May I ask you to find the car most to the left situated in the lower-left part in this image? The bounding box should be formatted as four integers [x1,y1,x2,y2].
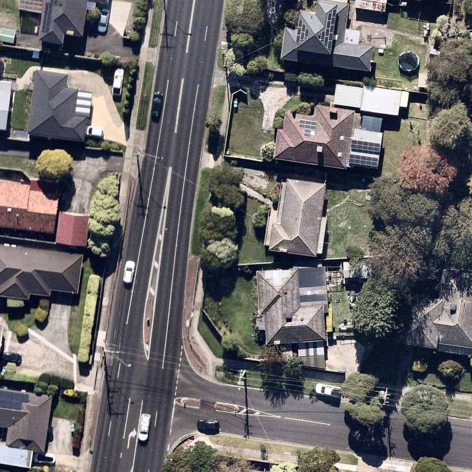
[0,351,26,365]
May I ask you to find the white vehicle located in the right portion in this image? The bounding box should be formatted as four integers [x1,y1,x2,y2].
[313,383,344,398]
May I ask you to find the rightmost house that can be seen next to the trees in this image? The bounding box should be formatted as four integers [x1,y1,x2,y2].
[408,270,472,355]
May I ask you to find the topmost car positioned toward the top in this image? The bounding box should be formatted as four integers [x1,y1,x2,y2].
[96,7,111,35]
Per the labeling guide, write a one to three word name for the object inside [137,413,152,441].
car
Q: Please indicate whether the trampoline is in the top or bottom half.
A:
top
